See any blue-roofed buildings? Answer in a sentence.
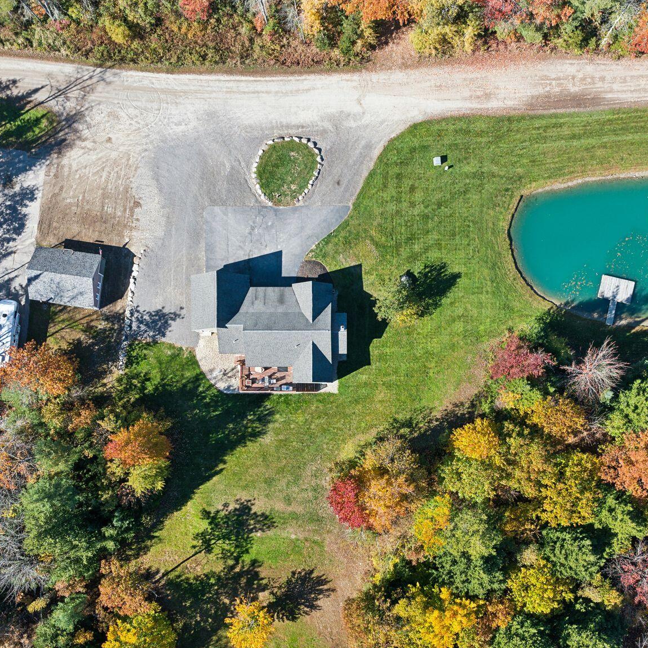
No, the scene contains no blue-roofed building.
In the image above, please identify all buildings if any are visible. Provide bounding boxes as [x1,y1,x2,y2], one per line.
[26,246,106,308]
[189,272,347,382]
